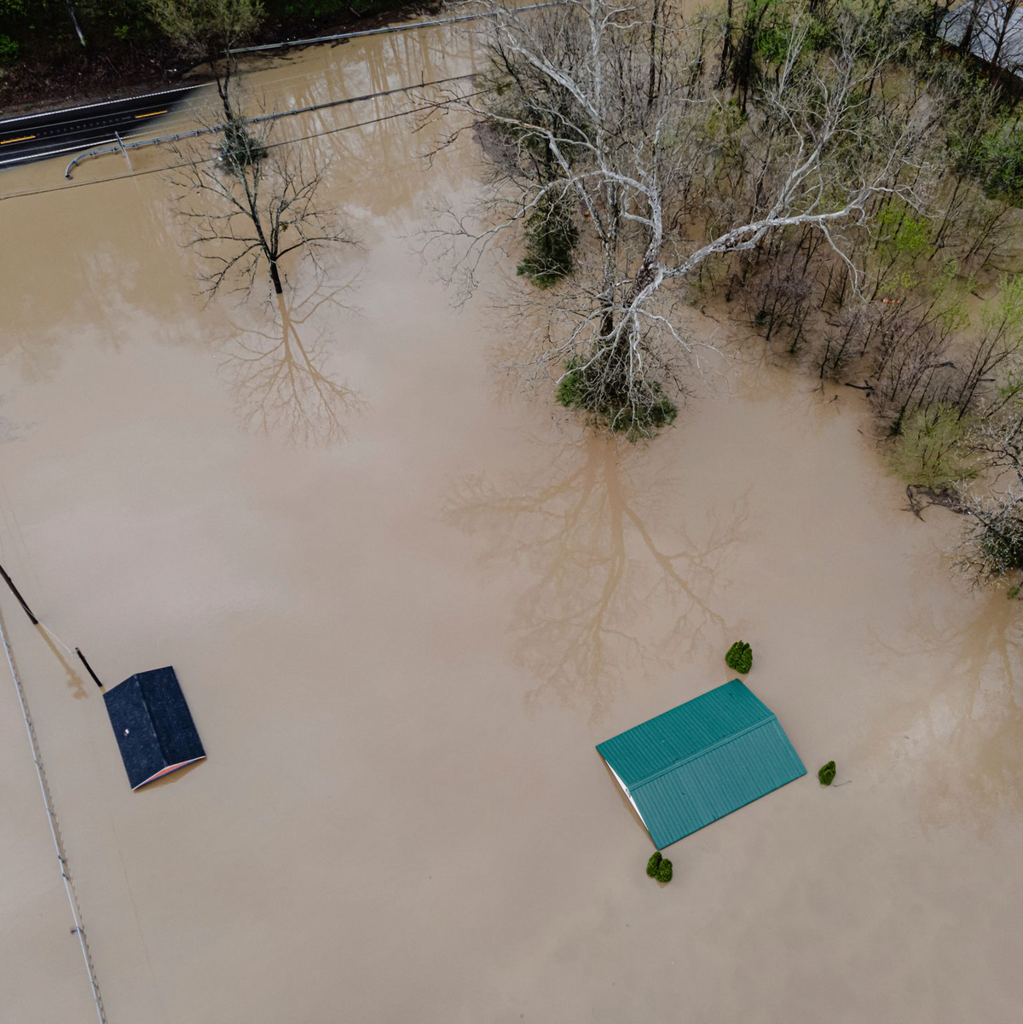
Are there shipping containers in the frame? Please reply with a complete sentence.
No, no shipping container is visible in the view.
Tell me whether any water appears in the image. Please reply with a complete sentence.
Yes, there's water in this view.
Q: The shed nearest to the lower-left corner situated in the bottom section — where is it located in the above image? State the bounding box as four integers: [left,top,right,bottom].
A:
[102,666,206,792]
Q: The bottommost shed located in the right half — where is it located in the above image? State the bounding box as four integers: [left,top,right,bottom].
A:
[596,679,807,851]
